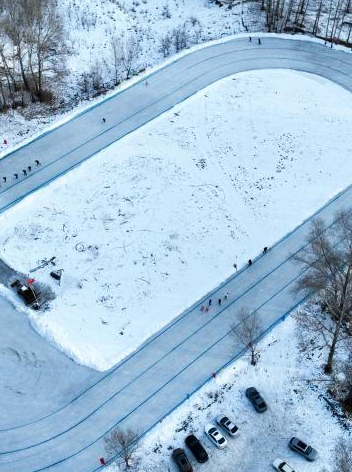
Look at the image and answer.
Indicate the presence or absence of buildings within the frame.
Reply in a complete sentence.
No, there isn't any building down there.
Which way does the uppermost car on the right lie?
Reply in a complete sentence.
I'd say the uppermost car on the right is aligned at an angle in the picture.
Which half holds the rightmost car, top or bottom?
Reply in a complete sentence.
Seen from above, the rightmost car lies in the bottom half of the view.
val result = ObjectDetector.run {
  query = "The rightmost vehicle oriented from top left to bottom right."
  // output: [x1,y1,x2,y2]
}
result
[289,435,319,463]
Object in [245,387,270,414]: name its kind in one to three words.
car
